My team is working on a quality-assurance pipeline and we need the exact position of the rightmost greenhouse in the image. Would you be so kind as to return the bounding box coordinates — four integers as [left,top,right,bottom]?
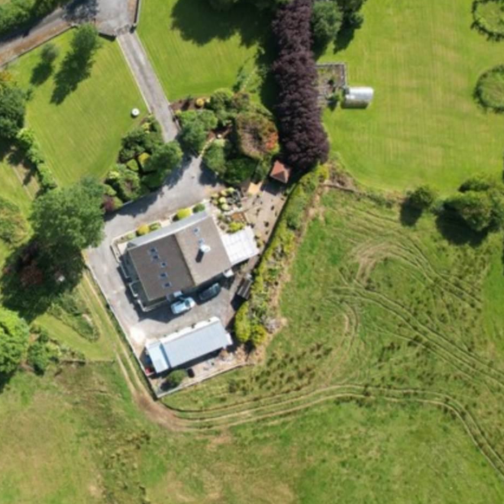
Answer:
[344,87,376,106]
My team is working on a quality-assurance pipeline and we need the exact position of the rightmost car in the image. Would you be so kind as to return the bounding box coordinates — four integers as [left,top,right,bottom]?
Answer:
[196,284,222,302]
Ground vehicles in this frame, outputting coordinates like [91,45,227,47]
[196,284,222,302]
[170,297,195,315]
